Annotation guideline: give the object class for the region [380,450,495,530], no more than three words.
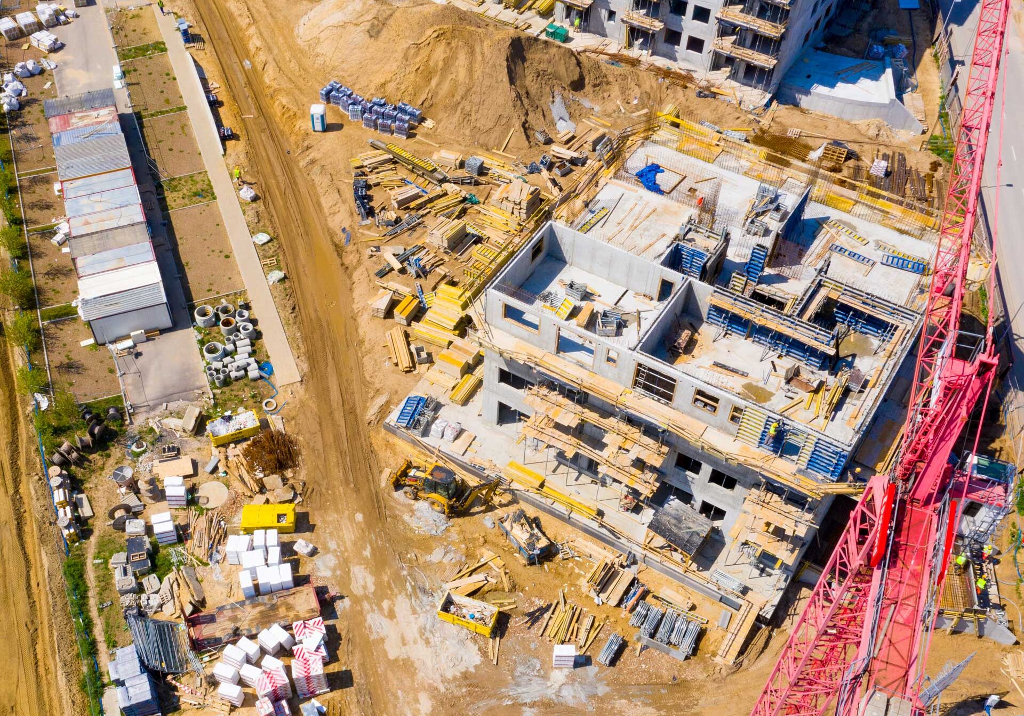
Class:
work vehicle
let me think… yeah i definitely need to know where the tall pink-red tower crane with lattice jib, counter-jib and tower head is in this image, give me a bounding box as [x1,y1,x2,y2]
[749,0,1024,716]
